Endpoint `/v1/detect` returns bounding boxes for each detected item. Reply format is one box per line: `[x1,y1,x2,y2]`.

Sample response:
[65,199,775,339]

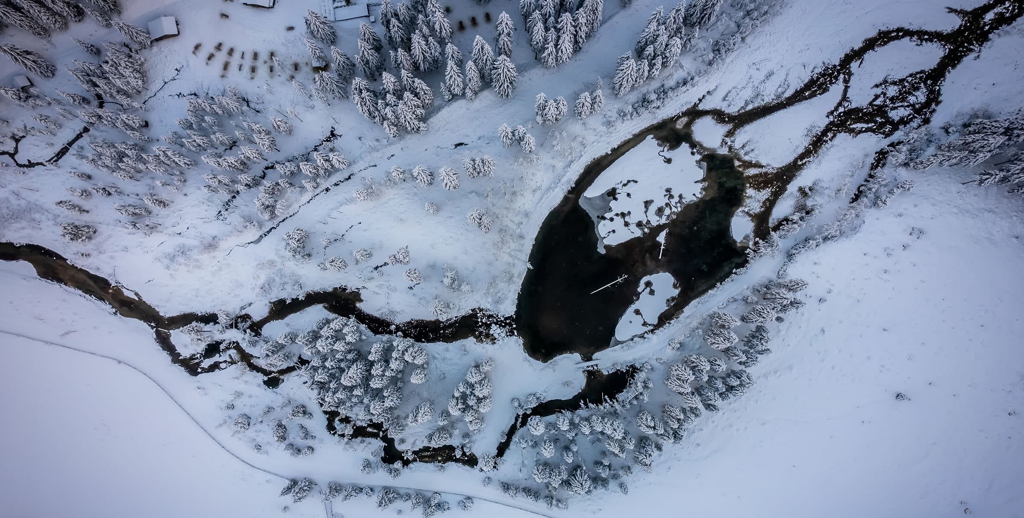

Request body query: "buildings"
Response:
[334,3,368,22]
[312,57,328,70]
[246,0,272,10]
[13,74,38,92]
[151,16,182,41]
